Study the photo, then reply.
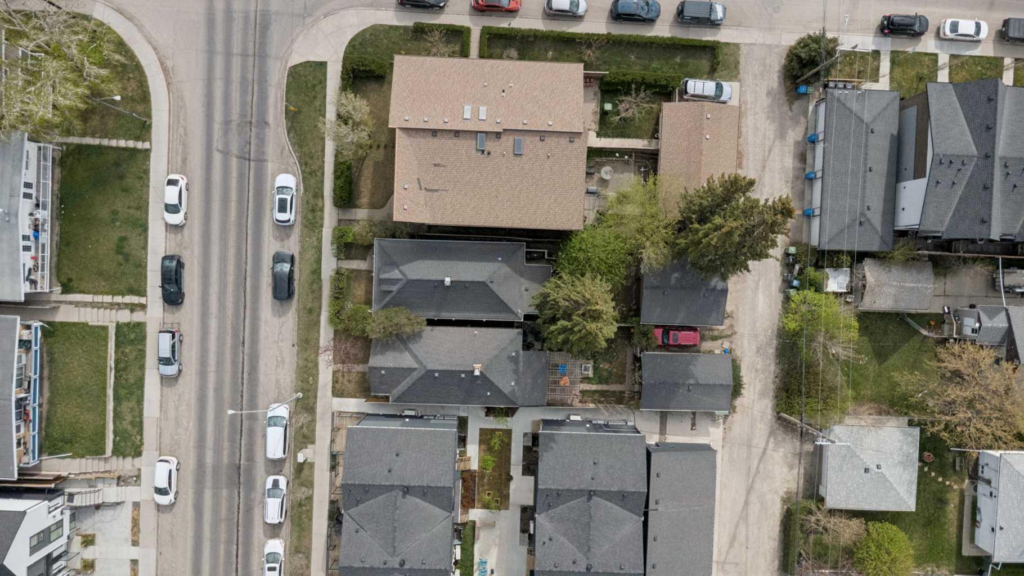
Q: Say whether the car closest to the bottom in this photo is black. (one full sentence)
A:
No, the color of the car closest to the bottom is white.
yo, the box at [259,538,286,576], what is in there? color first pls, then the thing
white car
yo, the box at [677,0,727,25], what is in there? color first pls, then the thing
gray car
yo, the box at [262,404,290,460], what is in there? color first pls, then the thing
white car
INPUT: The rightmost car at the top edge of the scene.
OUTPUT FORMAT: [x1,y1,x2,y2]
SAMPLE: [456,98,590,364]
[1001,17,1024,43]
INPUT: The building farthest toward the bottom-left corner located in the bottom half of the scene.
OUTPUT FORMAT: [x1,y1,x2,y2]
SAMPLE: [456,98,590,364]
[0,488,80,576]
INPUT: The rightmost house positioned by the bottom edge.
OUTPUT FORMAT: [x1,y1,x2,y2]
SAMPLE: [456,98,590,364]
[975,445,1024,562]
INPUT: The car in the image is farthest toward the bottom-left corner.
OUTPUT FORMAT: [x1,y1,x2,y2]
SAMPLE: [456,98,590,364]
[151,456,180,505]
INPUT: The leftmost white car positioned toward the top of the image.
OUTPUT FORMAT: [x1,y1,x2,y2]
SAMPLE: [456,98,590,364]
[161,174,189,226]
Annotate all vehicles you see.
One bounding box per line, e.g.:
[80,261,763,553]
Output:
[157,255,185,305]
[880,10,930,38]
[161,174,189,226]
[611,0,661,21]
[939,17,989,43]
[682,76,732,103]
[677,0,727,25]
[261,475,288,525]
[653,326,701,350]
[472,0,521,12]
[268,251,296,301]
[262,404,290,460]
[399,0,448,11]
[270,174,297,226]
[151,456,180,505]
[1001,17,1024,43]
[154,328,183,378]
[259,538,286,576]
[545,0,589,17]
